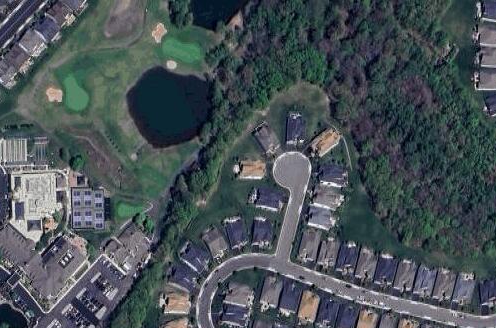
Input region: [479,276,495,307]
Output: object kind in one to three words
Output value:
house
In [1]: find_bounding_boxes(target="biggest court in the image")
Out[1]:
[4,138,27,162]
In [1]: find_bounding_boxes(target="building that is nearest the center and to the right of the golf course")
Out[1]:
[237,159,266,180]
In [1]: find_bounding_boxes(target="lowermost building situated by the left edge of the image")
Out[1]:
[0,226,87,296]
